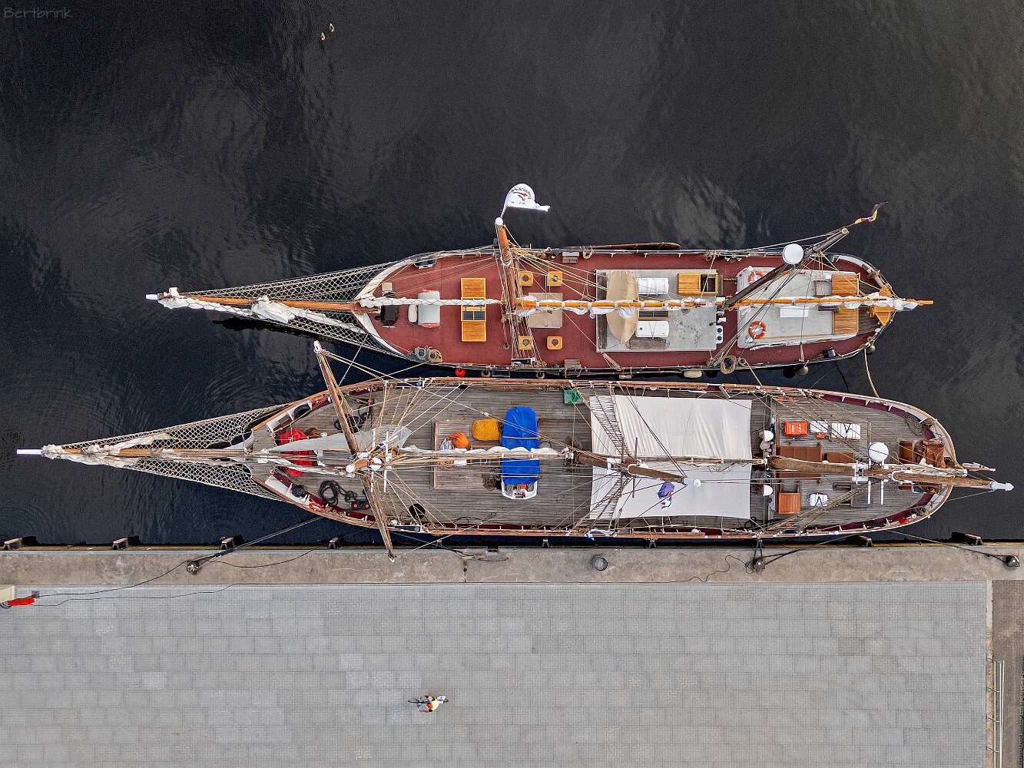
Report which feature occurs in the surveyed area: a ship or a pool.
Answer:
ship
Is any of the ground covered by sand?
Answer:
No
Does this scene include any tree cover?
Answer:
No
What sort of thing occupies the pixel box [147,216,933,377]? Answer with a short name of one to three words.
ship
